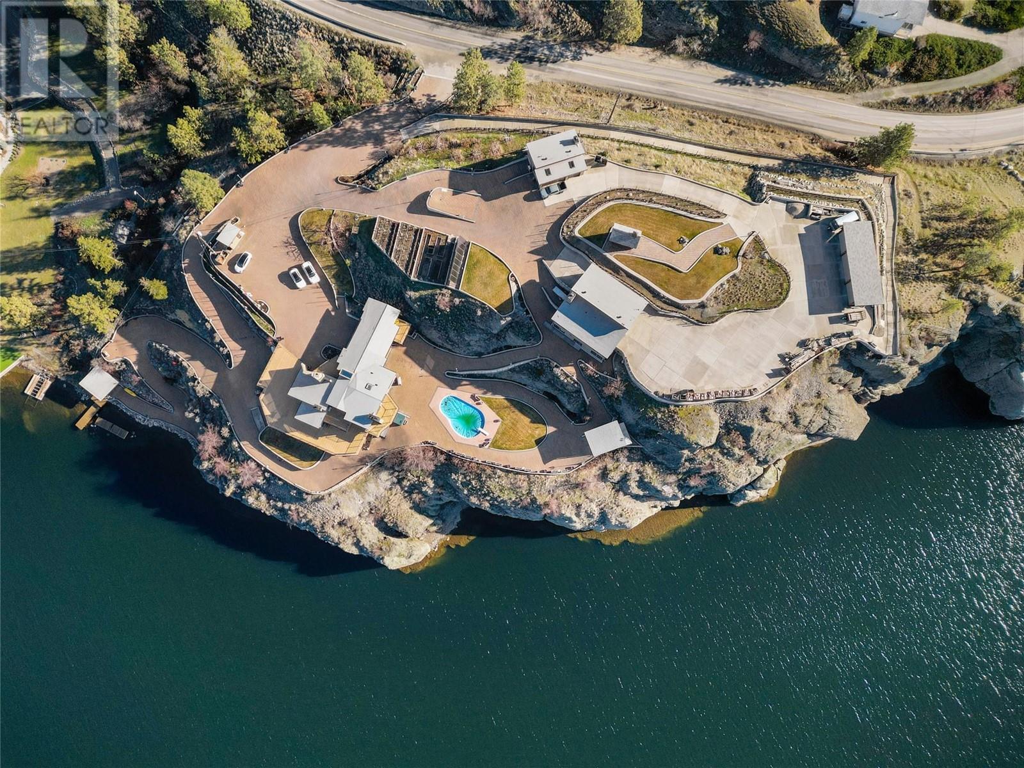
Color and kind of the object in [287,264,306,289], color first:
white car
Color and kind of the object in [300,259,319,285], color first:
white car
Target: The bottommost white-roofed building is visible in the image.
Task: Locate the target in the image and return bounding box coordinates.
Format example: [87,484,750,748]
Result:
[584,421,632,456]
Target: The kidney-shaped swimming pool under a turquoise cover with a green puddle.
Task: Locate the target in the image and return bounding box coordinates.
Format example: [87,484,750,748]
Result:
[429,391,502,447]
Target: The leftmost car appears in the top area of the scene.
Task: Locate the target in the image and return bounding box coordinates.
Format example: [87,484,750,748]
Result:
[231,250,252,274]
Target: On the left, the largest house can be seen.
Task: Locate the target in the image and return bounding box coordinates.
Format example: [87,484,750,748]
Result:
[256,297,411,456]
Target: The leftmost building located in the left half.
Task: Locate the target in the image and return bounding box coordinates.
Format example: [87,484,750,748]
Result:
[79,366,124,401]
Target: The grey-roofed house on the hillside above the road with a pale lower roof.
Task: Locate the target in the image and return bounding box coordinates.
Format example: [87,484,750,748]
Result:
[852,0,929,44]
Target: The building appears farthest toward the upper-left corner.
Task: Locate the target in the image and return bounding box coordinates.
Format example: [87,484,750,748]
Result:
[216,222,247,251]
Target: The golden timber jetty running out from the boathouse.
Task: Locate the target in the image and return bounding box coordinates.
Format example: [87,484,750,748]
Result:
[69,398,108,431]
